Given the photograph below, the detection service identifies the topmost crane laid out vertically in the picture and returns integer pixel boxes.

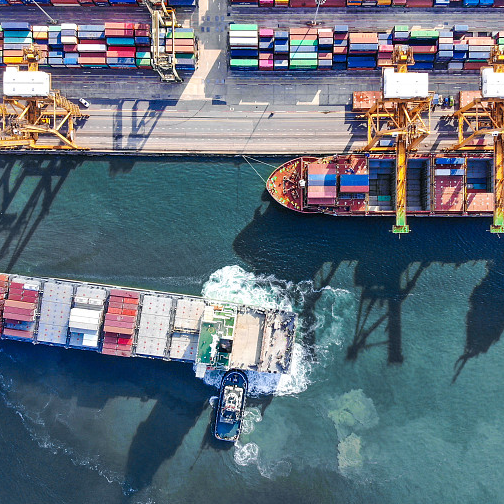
[152,8,184,77]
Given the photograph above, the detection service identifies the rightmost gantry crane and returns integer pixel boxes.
[431,47,504,243]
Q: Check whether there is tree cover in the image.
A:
No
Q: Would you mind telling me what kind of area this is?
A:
port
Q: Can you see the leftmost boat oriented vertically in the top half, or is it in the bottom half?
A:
bottom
